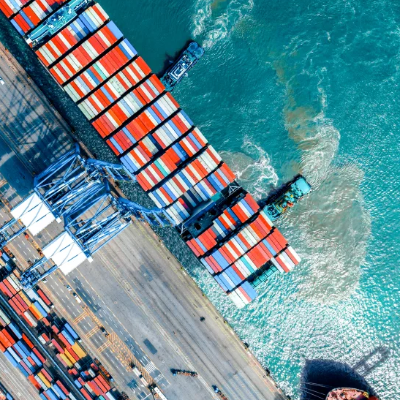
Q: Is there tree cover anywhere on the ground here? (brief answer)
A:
No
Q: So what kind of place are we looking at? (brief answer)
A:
port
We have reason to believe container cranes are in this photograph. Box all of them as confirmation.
[26,179,173,295]
[0,141,135,254]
